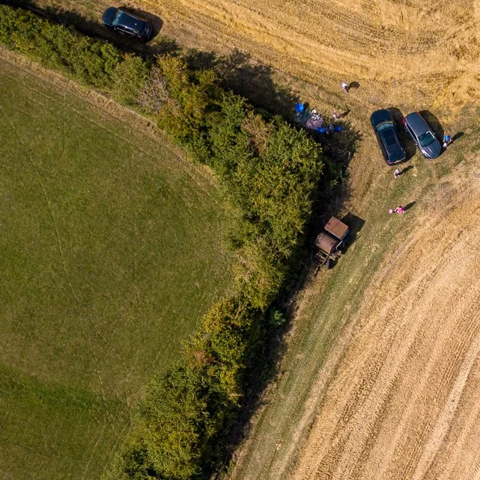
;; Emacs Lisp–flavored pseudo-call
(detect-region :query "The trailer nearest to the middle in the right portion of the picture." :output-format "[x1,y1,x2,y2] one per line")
[312,217,350,277]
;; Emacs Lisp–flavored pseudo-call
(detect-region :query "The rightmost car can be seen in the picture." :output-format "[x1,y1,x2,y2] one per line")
[405,110,444,160]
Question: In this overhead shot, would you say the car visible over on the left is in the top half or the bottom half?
top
